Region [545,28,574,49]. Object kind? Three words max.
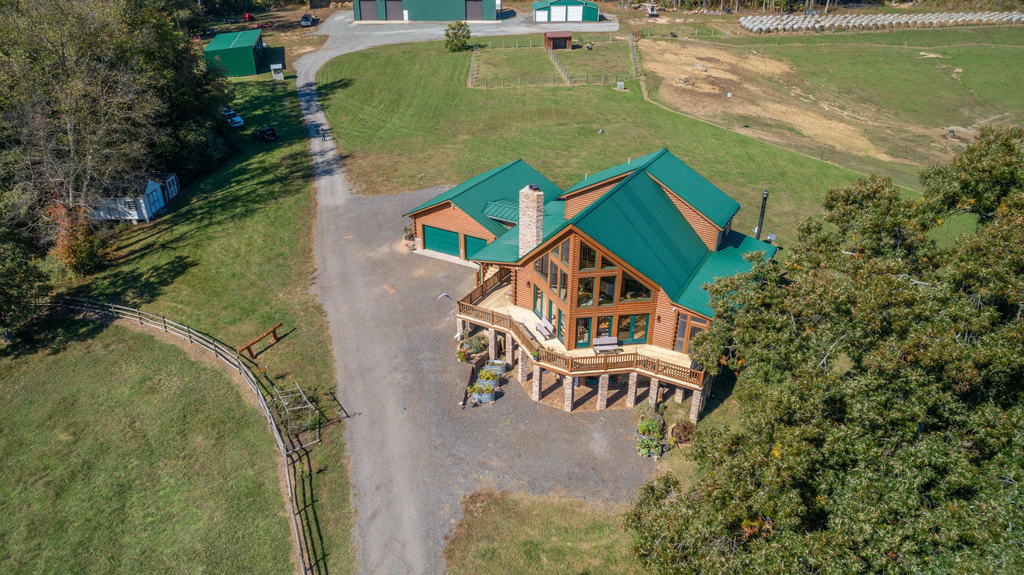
shed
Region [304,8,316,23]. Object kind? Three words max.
vehicle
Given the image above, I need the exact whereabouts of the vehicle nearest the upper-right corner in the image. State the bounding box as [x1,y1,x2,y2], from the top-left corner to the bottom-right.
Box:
[646,4,661,18]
